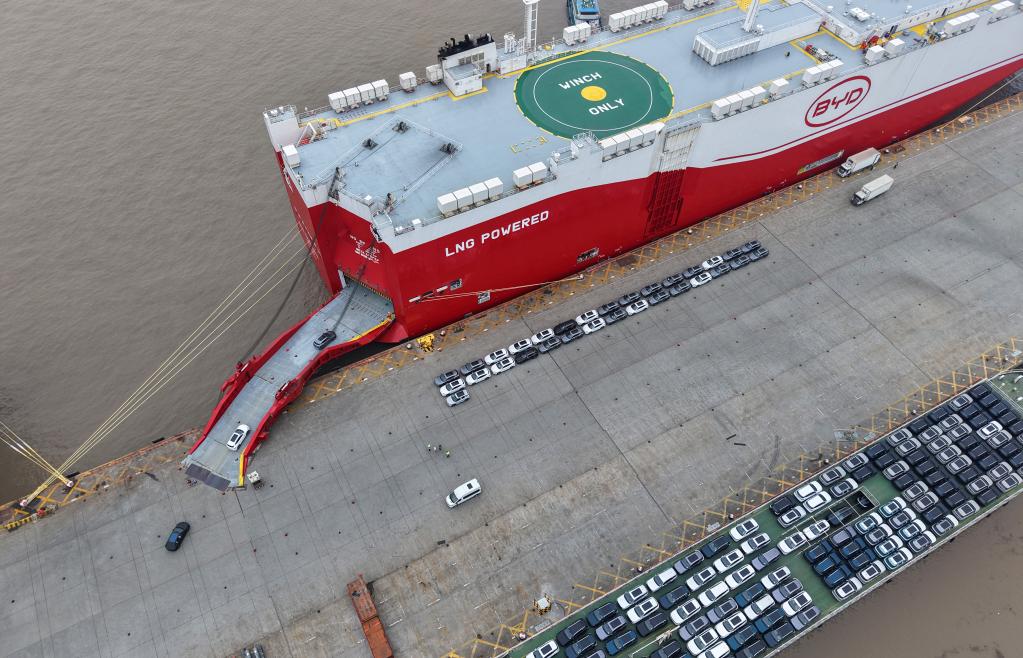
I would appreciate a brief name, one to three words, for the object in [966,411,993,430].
car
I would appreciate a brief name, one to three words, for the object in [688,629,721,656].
car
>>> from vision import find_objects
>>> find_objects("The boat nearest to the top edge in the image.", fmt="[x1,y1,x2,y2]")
[565,0,602,35]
